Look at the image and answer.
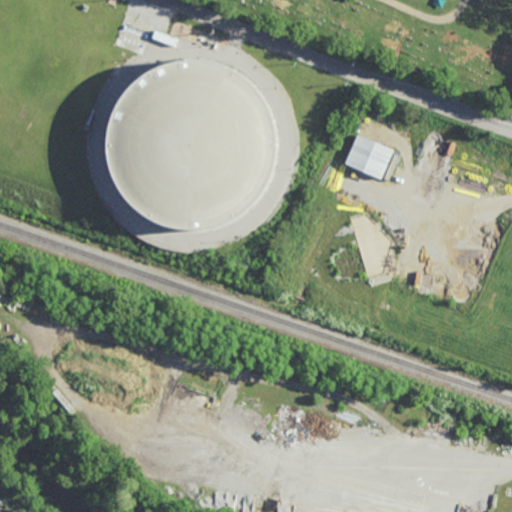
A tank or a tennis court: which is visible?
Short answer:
tank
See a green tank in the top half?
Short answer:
No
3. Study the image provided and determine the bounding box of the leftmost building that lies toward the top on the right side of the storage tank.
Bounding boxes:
[346,135,398,180]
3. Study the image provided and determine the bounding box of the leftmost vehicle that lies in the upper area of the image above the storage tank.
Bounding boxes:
[120,21,145,36]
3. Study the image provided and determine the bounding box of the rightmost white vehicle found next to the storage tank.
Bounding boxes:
[148,30,179,48]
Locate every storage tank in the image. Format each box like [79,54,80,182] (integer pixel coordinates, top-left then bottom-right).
[106,60,276,230]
